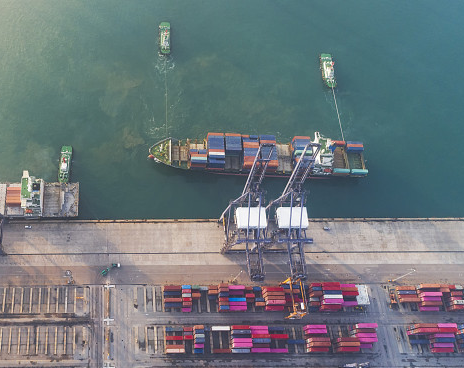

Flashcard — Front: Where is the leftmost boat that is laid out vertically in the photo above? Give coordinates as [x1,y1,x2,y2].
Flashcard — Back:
[56,146,74,182]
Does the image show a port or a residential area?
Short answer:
port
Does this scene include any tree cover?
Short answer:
No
